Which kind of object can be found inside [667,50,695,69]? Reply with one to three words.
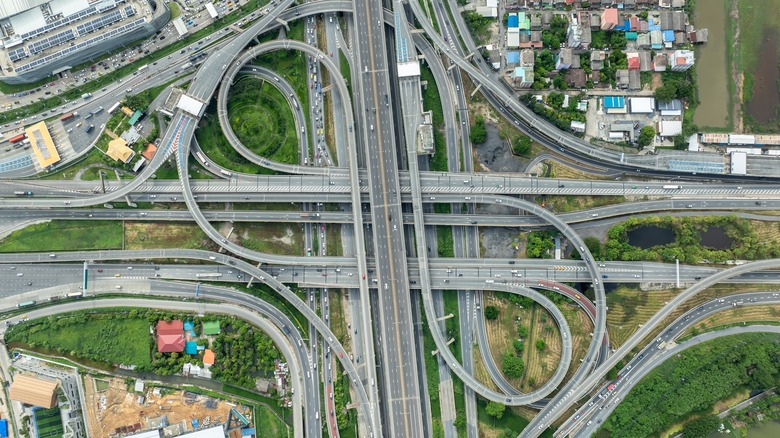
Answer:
house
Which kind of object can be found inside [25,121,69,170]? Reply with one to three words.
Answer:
toll station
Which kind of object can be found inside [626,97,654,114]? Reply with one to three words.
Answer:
building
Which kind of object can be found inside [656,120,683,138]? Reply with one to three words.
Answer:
building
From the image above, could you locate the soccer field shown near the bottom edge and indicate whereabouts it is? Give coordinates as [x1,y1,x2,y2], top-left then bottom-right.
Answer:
[32,398,63,438]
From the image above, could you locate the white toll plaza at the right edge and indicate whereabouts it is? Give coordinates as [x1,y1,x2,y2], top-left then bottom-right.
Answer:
[722,152,746,174]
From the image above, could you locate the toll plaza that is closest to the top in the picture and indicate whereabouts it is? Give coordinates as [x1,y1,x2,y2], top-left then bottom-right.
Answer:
[397,61,420,83]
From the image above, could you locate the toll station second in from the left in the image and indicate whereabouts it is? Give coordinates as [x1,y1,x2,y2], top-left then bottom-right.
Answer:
[176,94,209,120]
